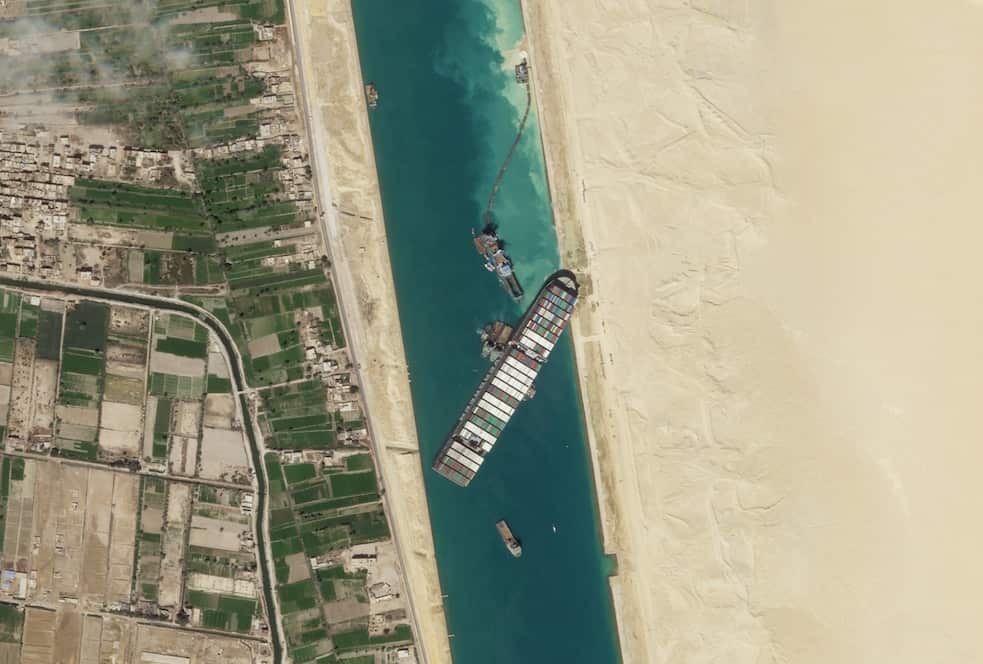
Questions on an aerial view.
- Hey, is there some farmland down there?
Yes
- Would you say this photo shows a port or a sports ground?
port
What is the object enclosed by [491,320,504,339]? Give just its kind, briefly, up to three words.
ship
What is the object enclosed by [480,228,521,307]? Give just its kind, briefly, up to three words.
ship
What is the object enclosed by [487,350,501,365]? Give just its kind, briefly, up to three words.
boat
